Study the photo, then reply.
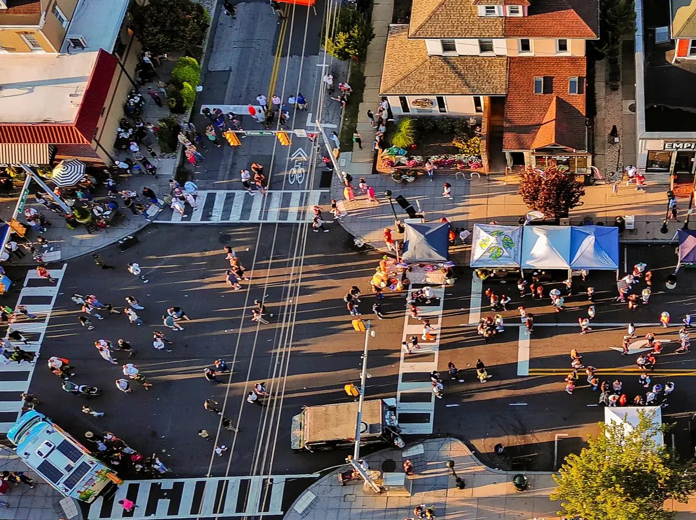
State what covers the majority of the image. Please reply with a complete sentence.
What you mostly see from above here is paved ground.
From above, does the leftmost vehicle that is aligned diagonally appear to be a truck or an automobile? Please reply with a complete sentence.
Specifically, the leftmost vehicle that is aligned diagonally is a truck.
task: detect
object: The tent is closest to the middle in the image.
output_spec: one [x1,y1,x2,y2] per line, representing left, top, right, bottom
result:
[403,227,452,274]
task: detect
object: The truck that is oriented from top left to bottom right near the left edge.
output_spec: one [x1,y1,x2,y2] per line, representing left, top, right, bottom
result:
[6,409,134,512]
